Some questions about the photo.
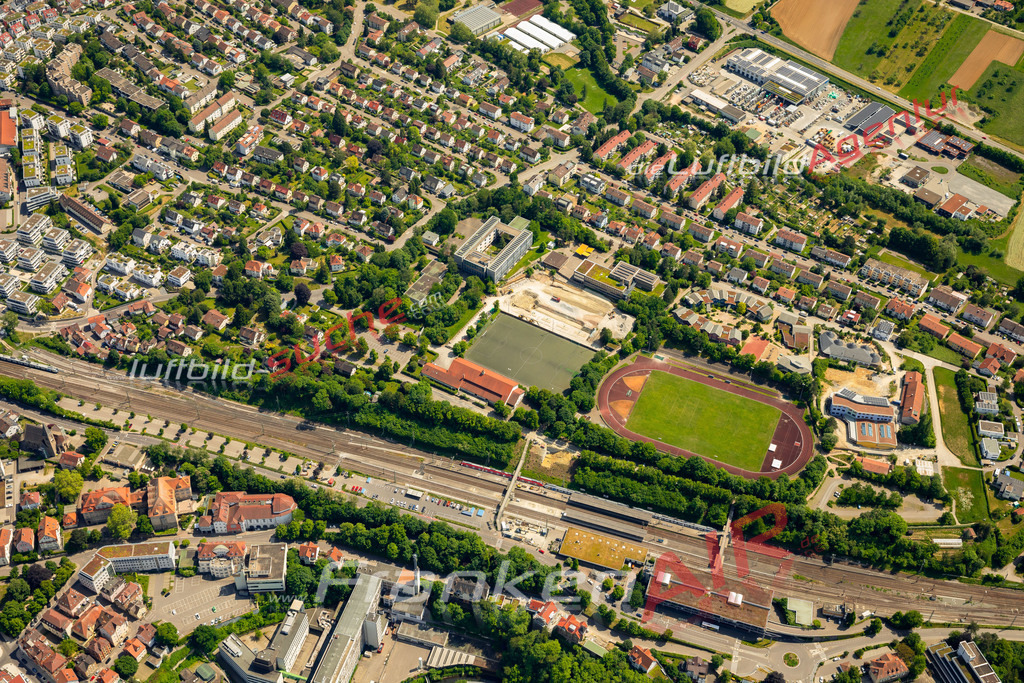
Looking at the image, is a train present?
Yes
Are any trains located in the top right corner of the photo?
No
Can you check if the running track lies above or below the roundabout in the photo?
above it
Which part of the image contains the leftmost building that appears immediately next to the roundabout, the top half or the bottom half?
bottom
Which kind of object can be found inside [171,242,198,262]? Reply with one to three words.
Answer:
house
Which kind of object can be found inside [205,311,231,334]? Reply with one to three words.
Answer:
building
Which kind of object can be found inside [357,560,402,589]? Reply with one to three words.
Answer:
building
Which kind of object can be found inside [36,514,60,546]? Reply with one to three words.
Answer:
house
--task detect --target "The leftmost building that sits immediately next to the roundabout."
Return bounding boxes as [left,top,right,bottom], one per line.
[645,559,773,635]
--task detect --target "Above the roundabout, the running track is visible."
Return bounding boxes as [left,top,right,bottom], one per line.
[597,363,814,480]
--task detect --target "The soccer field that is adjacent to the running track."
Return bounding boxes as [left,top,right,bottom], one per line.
[465,312,593,392]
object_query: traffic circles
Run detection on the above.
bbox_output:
[765,641,816,676]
